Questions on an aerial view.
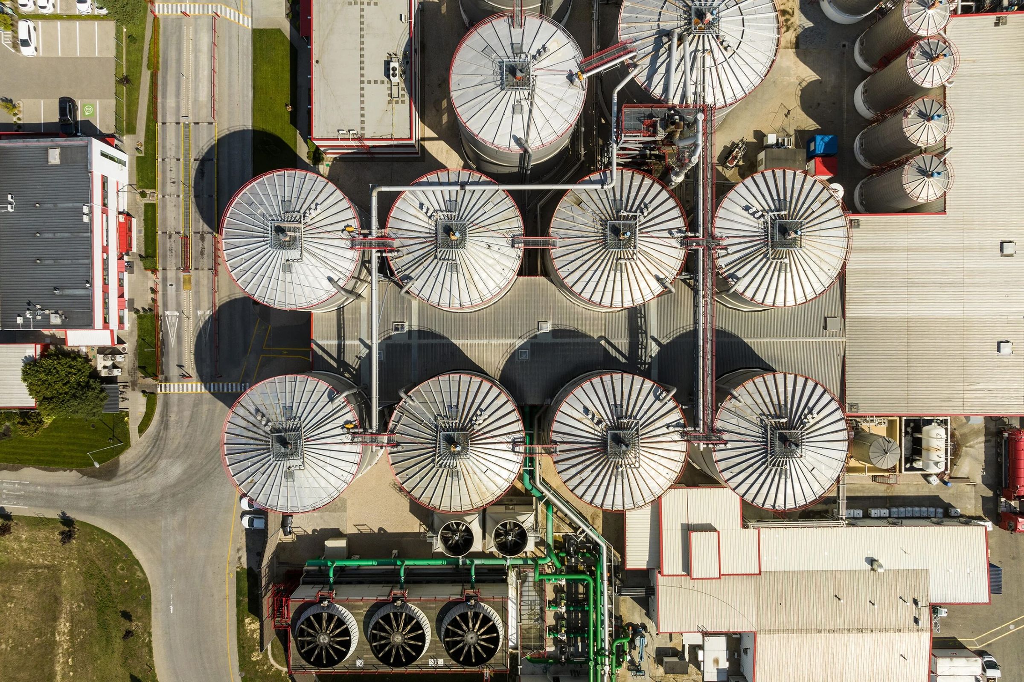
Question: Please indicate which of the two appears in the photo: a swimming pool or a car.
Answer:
car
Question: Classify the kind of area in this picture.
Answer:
industrial area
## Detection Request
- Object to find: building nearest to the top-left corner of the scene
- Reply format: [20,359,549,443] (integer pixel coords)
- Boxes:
[0,132,145,328]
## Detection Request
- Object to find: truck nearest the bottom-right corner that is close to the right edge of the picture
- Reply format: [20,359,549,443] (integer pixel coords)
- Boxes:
[981,646,1006,682]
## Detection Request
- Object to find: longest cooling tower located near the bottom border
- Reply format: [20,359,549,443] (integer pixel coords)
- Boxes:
[287,562,515,677]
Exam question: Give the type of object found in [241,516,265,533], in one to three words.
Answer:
car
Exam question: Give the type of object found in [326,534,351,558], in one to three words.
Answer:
shed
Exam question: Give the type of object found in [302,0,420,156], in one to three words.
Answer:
building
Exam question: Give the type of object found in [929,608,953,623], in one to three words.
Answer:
work vehicle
